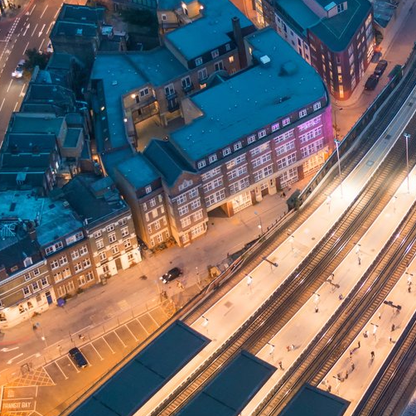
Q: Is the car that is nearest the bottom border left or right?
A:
left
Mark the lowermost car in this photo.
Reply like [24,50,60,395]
[66,346,89,366]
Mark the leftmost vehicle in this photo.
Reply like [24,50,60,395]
[10,62,24,77]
